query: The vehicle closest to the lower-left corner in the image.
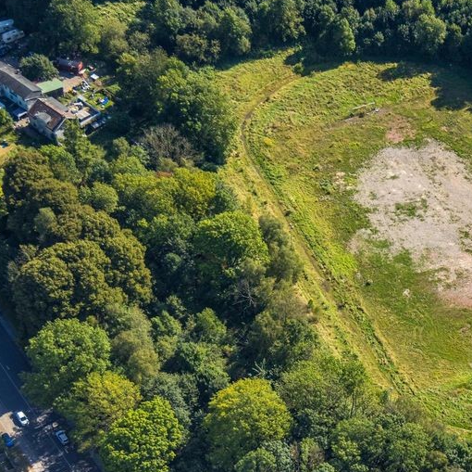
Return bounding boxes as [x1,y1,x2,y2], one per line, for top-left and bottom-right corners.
[1,431,15,448]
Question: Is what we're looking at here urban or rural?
rural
